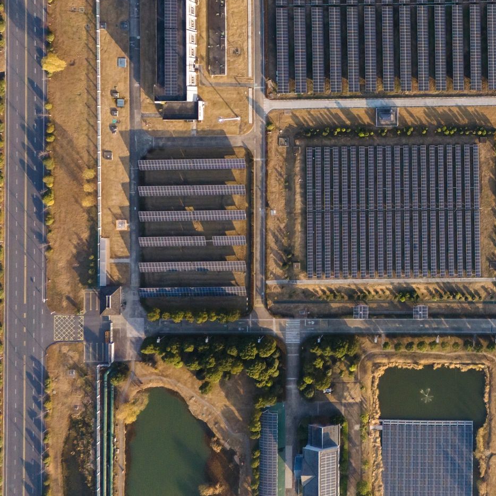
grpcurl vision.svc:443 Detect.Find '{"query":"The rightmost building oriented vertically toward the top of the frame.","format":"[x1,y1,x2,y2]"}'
[209,0,228,76]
